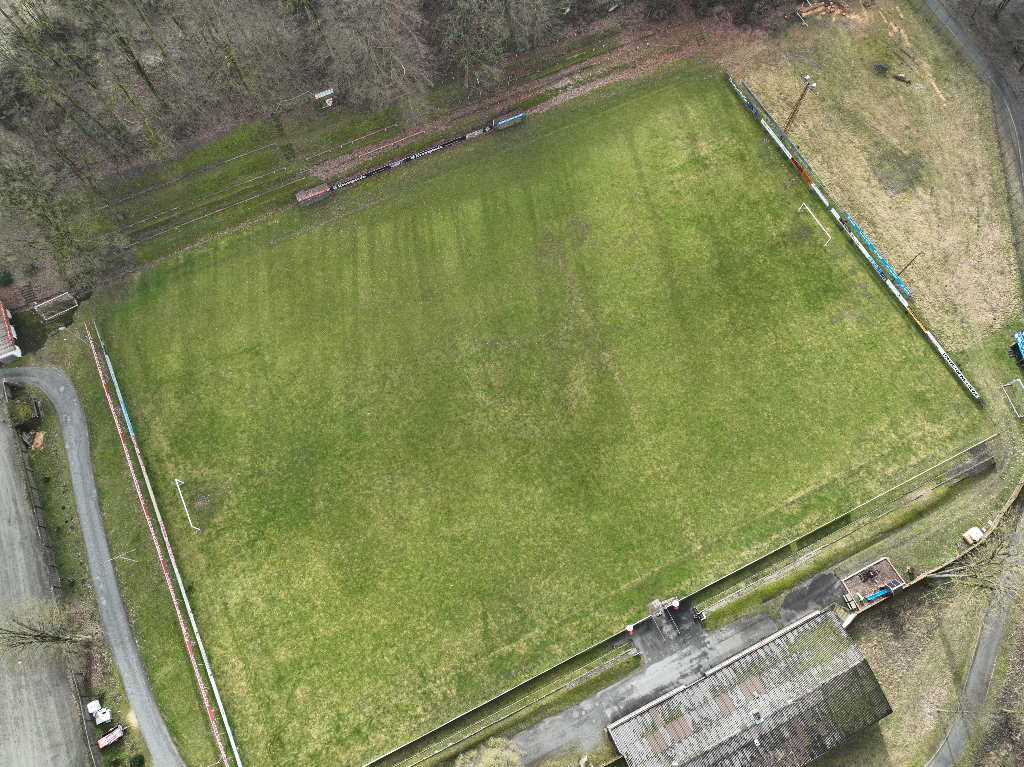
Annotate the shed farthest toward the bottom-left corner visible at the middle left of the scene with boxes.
[10,396,45,429]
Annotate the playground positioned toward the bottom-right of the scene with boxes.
[839,557,906,611]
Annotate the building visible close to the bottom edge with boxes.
[609,609,891,767]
